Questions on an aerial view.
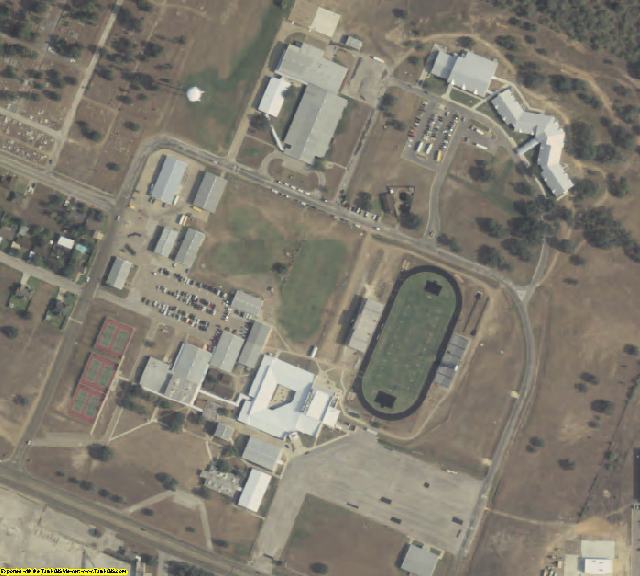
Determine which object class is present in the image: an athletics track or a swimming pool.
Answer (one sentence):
There is an athletics track in the scene.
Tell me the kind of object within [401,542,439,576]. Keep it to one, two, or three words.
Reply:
building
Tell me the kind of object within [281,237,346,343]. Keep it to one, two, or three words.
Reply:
sports field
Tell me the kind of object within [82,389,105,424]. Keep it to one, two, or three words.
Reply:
tennis court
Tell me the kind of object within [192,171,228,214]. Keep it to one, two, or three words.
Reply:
building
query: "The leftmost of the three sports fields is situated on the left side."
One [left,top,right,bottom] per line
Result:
[204,204,286,275]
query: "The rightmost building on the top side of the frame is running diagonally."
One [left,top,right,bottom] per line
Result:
[492,88,574,197]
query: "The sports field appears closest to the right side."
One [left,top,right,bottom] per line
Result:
[366,271,453,414]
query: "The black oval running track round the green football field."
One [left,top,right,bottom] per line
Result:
[352,264,459,421]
